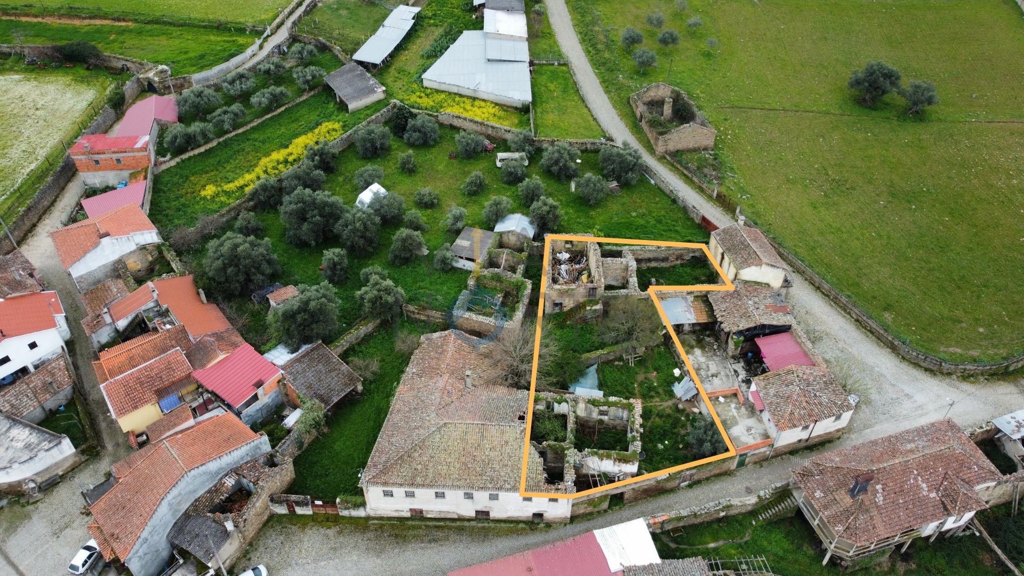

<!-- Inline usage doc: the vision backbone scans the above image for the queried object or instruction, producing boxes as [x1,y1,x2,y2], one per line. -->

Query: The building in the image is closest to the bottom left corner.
[0,415,79,502]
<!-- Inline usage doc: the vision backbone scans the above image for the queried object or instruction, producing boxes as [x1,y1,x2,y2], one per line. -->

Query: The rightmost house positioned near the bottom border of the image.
[789,418,1004,566]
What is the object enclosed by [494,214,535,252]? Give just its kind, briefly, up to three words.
shed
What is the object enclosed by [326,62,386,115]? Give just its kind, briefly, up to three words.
barn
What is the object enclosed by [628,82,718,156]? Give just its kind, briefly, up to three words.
building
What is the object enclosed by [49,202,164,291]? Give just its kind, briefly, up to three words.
house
